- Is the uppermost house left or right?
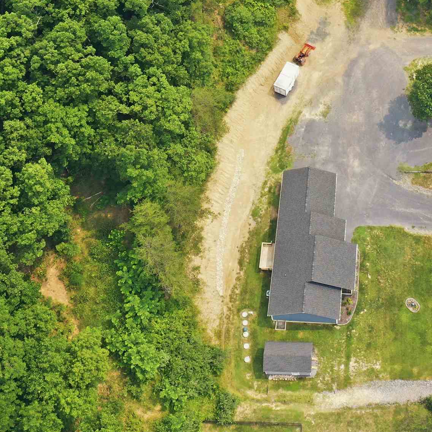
right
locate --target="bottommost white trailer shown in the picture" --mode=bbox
[273,65,298,103]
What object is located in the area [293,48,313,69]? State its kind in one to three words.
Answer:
work vehicle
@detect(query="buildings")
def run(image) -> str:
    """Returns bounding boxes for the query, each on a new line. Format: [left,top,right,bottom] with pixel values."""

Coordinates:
[261,168,357,334]
[263,343,319,376]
